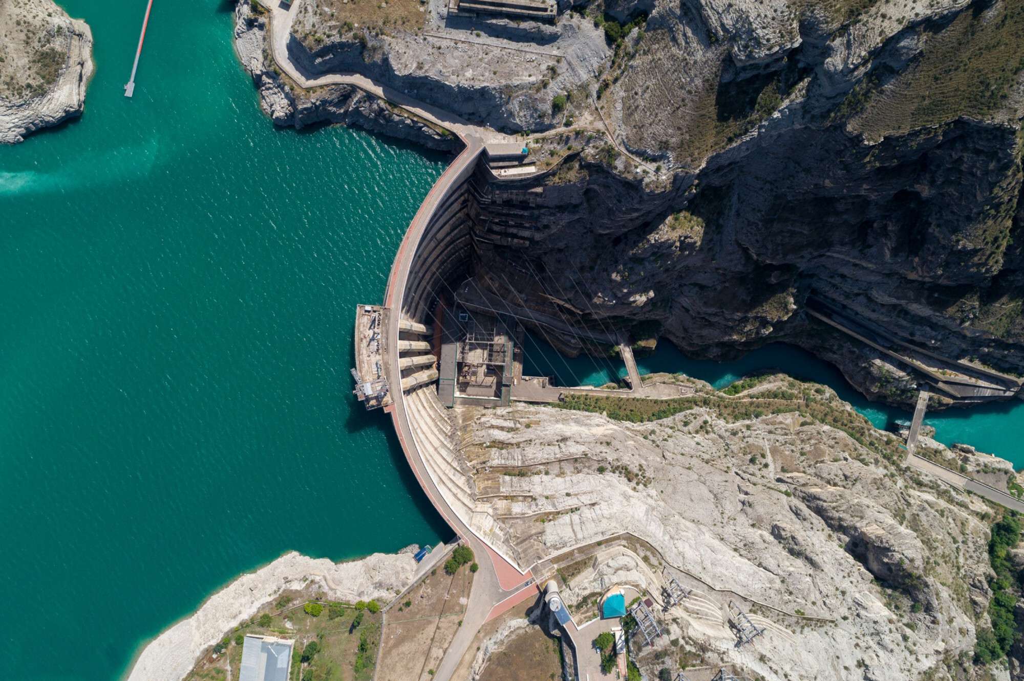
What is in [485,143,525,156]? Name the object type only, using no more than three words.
building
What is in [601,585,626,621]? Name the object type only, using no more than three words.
building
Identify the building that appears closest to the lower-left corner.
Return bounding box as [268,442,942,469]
[240,630,298,681]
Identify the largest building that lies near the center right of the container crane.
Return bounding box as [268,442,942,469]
[439,303,518,407]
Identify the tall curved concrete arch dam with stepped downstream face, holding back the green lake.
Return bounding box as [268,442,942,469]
[383,145,524,574]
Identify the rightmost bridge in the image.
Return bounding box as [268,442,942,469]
[899,393,931,455]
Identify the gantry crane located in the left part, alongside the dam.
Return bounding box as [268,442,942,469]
[352,369,389,409]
